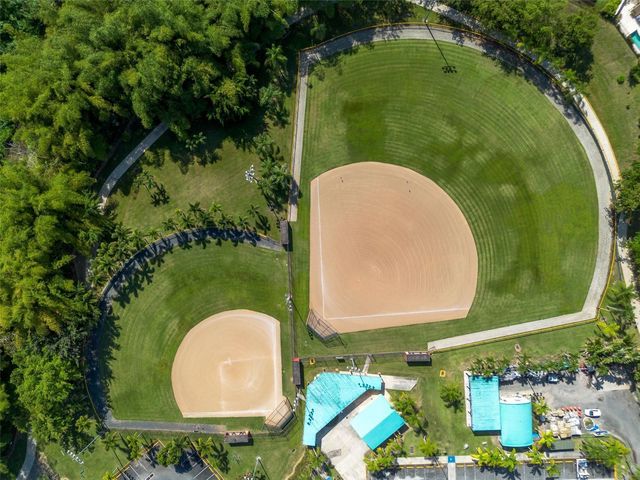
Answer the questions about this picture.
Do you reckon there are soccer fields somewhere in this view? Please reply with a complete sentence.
No, the scene contains no soccer field.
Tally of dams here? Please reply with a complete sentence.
Not a single dam can be seen.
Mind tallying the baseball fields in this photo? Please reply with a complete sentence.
In total, there are 2 baseball fields in the scene.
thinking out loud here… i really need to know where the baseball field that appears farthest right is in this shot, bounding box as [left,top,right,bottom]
[289,25,612,358]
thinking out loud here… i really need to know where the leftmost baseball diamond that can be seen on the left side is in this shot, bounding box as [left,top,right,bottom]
[88,229,297,434]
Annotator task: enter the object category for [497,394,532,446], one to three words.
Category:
building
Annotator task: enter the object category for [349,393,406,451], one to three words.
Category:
building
